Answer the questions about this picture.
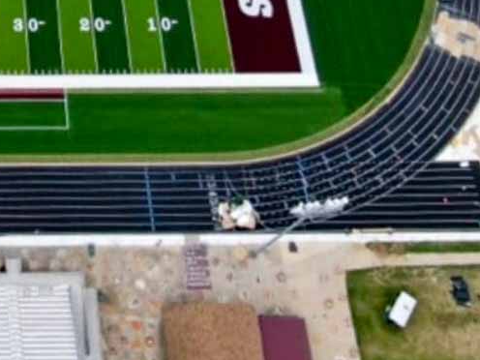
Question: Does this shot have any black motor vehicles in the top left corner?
No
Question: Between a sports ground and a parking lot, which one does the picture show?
sports ground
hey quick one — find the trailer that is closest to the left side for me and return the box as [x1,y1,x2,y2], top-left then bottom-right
[384,293,415,329]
